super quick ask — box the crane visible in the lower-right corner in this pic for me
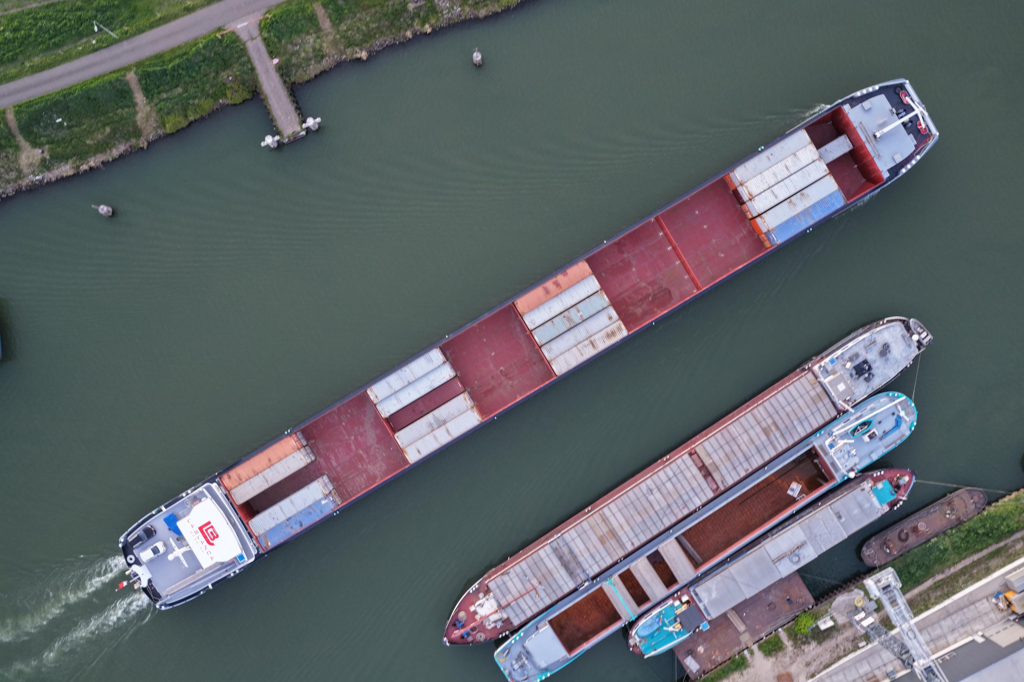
[851,568,962,682]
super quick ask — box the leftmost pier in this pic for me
[259,74,310,146]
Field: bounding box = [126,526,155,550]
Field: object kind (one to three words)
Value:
boat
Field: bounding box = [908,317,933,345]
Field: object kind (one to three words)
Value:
boat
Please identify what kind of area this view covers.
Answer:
port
